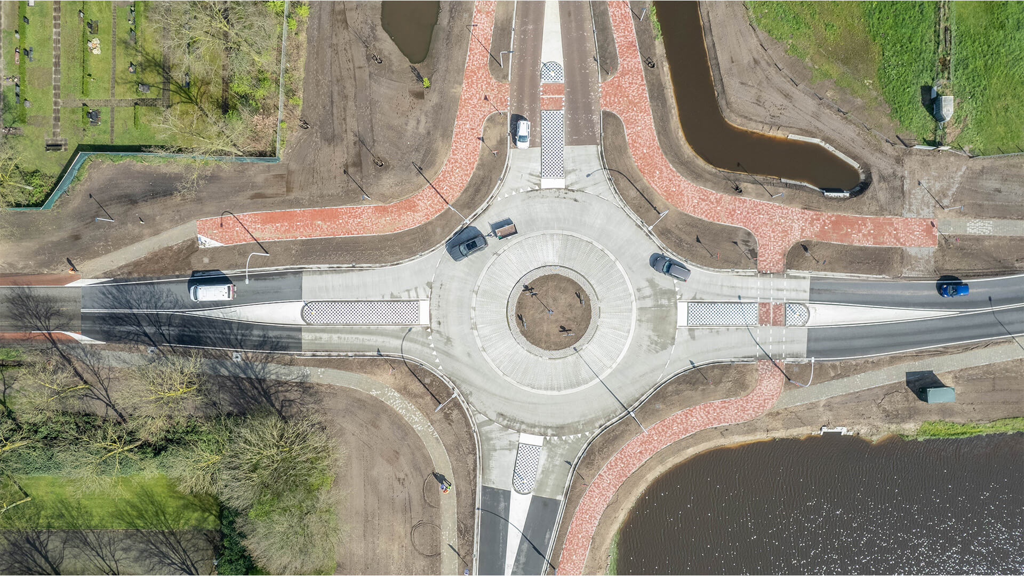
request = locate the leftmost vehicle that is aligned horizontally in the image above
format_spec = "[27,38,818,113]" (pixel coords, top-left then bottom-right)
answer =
[191,283,237,303]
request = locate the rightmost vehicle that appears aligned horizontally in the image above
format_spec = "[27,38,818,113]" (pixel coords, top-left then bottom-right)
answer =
[940,282,972,298]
